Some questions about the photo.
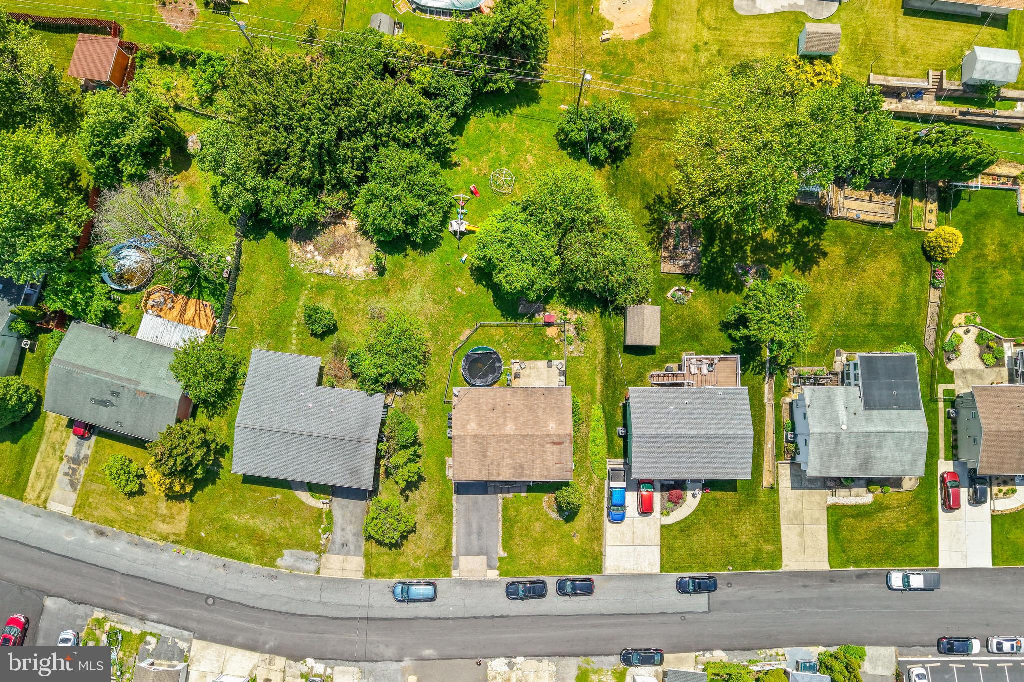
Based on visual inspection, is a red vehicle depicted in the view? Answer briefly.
Yes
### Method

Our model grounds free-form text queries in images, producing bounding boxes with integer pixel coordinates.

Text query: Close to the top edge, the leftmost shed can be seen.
[69,33,136,90]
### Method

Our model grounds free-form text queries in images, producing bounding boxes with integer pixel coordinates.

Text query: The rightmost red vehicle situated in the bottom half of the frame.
[938,469,964,511]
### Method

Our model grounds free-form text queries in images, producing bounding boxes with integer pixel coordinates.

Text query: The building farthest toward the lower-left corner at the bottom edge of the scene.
[132,648,199,682]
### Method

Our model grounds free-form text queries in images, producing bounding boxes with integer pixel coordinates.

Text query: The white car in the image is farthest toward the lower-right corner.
[985,634,1024,657]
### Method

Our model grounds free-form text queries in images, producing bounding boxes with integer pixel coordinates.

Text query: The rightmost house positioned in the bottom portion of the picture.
[956,385,1024,476]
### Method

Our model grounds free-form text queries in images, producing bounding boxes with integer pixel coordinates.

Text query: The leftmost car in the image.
[0,608,31,655]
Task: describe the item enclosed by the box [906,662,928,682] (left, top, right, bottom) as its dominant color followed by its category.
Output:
white car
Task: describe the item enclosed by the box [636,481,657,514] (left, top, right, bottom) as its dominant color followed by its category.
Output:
red car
